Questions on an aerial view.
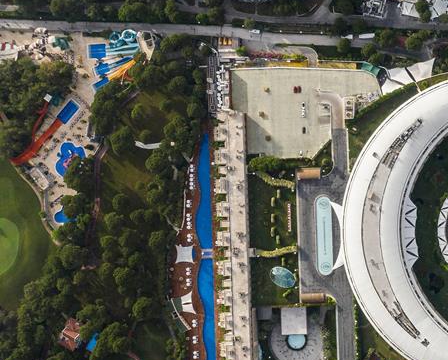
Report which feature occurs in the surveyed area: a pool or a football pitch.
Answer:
pool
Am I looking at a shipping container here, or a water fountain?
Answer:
water fountain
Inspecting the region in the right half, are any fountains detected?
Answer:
Yes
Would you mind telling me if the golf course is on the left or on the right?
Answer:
left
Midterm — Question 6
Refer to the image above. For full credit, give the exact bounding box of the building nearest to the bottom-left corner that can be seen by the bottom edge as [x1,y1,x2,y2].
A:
[59,318,83,352]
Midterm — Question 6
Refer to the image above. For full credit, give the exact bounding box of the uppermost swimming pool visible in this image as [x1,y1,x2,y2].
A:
[88,43,107,60]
